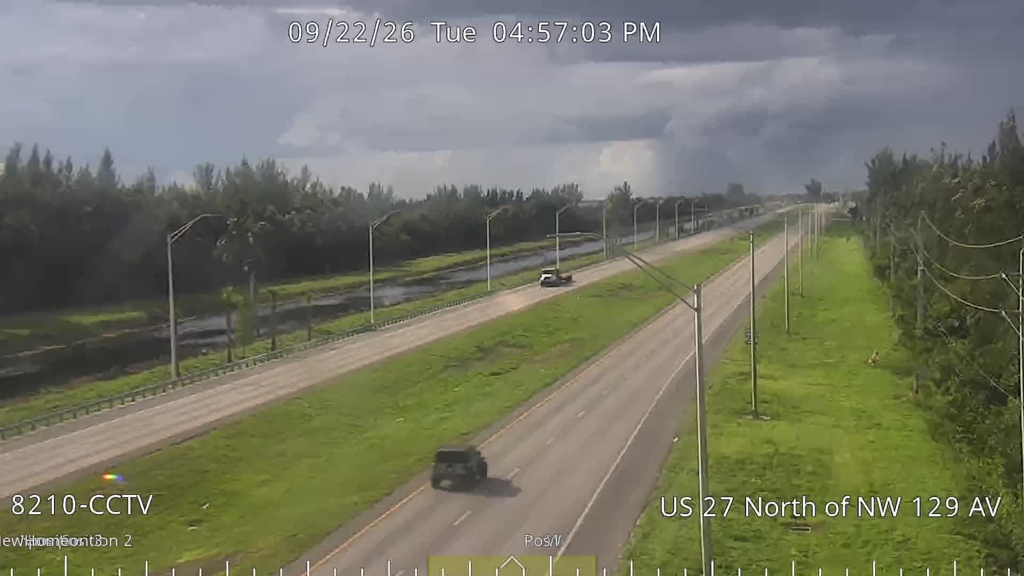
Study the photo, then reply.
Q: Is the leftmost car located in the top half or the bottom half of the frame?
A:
bottom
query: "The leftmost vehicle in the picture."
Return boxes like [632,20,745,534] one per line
[429,443,486,488]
